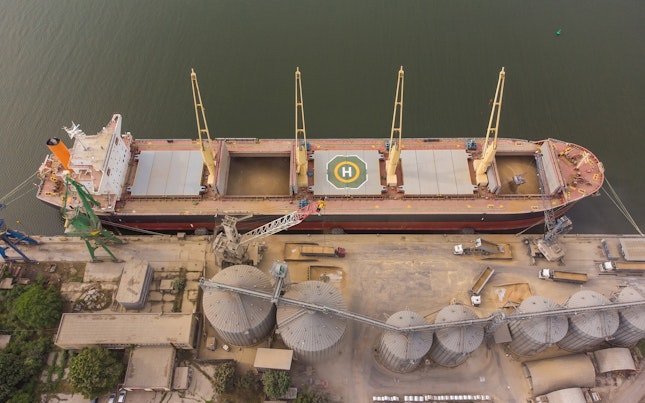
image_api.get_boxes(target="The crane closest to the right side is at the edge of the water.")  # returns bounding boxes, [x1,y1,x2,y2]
[520,145,566,266]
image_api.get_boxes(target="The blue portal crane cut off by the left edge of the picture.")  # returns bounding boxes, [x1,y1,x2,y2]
[0,213,39,262]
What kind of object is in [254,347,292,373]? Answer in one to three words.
shed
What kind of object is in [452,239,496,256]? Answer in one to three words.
vehicle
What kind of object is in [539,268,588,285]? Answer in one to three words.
vehicle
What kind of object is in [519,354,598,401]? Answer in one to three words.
building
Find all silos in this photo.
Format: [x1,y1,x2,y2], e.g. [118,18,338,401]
[275,281,349,363]
[202,264,278,346]
[610,282,645,348]
[429,304,486,369]
[560,288,620,354]
[506,294,571,360]
[377,309,434,375]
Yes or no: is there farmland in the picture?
No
